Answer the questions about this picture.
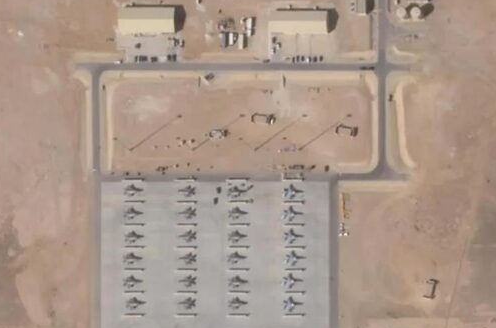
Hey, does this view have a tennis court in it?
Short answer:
No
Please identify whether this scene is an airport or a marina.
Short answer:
airport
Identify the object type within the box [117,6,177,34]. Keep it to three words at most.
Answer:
hangar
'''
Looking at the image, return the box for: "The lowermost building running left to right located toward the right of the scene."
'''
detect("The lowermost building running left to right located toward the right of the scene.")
[267,11,329,34]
